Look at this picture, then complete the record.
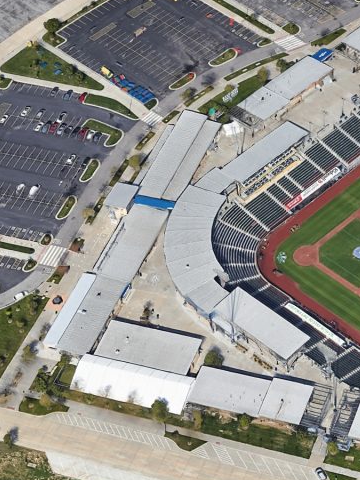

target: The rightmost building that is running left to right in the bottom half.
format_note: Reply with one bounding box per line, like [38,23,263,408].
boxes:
[188,366,314,431]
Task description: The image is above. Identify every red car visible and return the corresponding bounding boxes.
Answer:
[78,128,89,139]
[77,93,88,103]
[49,123,59,133]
